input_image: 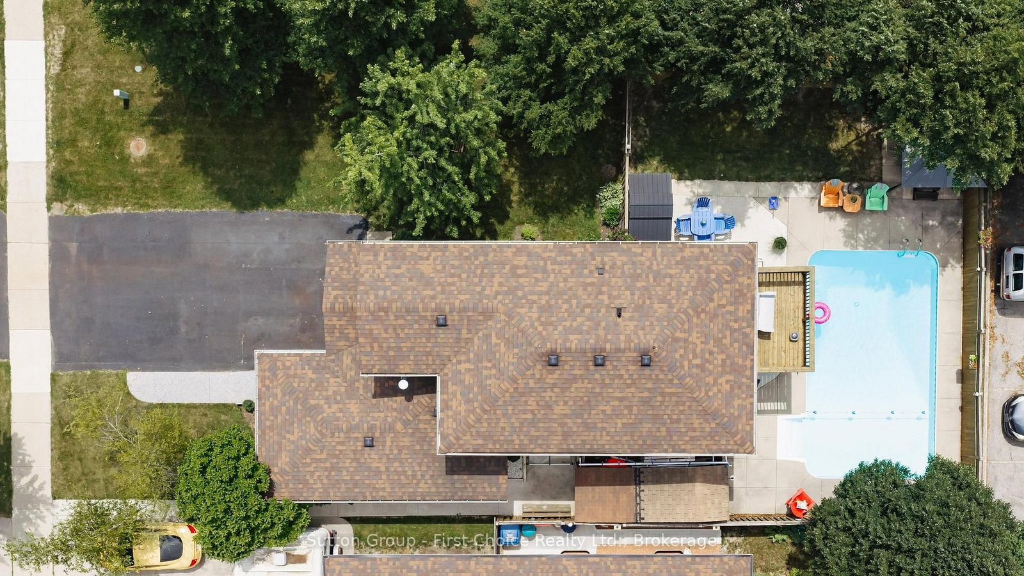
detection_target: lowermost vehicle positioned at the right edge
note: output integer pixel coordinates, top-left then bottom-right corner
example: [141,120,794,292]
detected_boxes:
[999,394,1024,443]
